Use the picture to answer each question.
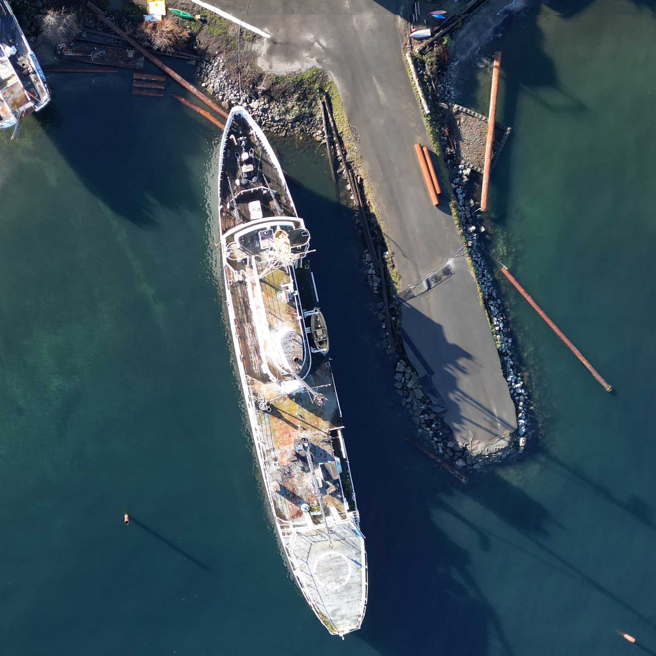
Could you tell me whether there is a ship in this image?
Yes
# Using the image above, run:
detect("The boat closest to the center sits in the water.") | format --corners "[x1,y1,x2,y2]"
[311,308,329,355]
